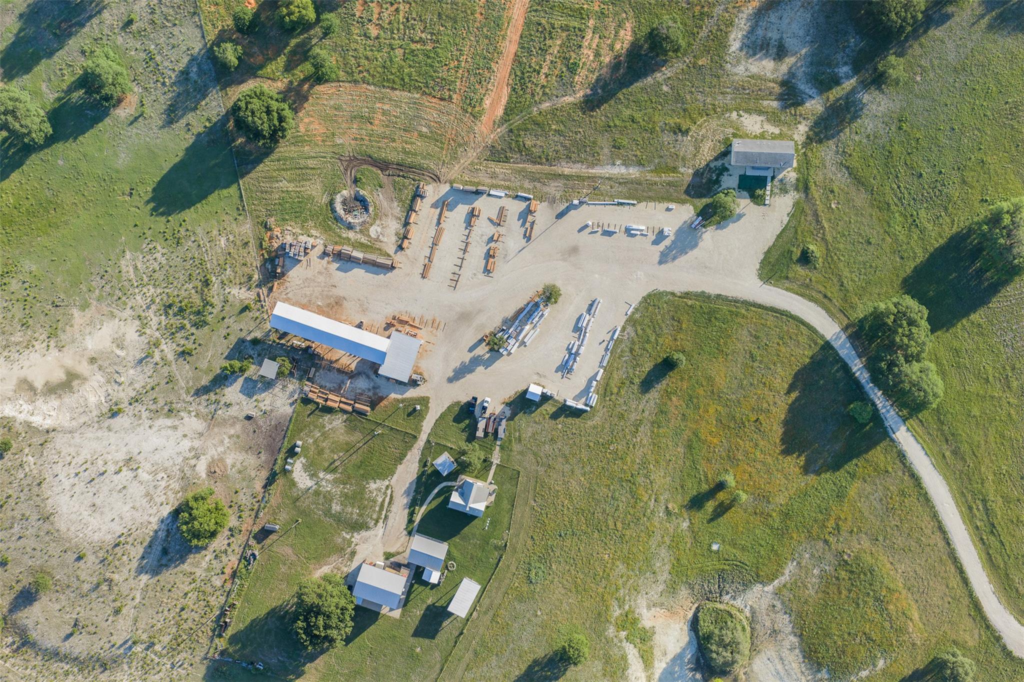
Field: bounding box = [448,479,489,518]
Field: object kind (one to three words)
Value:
house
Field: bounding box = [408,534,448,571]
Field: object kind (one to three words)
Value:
building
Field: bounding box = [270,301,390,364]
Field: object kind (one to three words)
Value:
barn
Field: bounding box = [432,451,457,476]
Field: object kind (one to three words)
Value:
building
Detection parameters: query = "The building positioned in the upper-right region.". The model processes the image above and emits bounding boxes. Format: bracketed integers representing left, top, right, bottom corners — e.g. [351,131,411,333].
[729,139,797,176]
